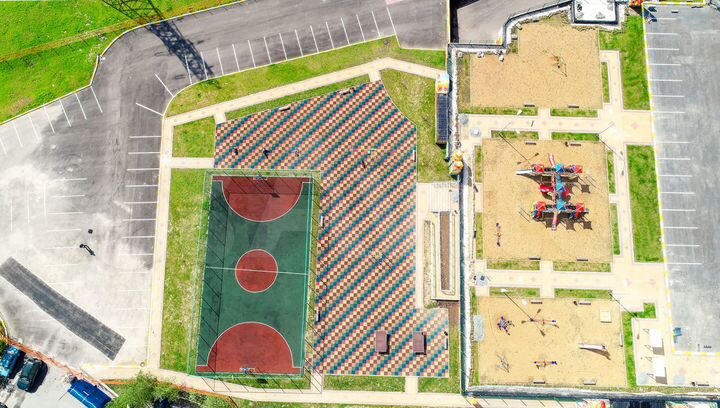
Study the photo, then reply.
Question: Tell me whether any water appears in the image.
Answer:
No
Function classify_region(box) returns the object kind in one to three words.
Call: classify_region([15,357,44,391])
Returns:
car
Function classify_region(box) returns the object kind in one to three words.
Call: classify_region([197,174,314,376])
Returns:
sports court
